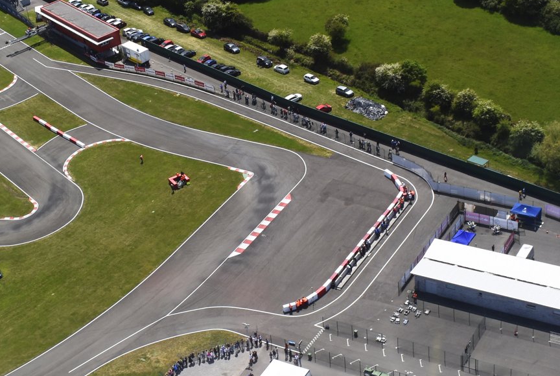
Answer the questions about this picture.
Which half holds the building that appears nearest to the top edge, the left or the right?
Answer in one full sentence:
You can find the building that appears nearest to the top edge on the left side of the picture.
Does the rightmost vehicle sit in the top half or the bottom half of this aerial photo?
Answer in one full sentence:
It is in the bottom half that the rightmost vehicle appears.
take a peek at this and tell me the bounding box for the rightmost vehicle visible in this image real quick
[513,235,538,260]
